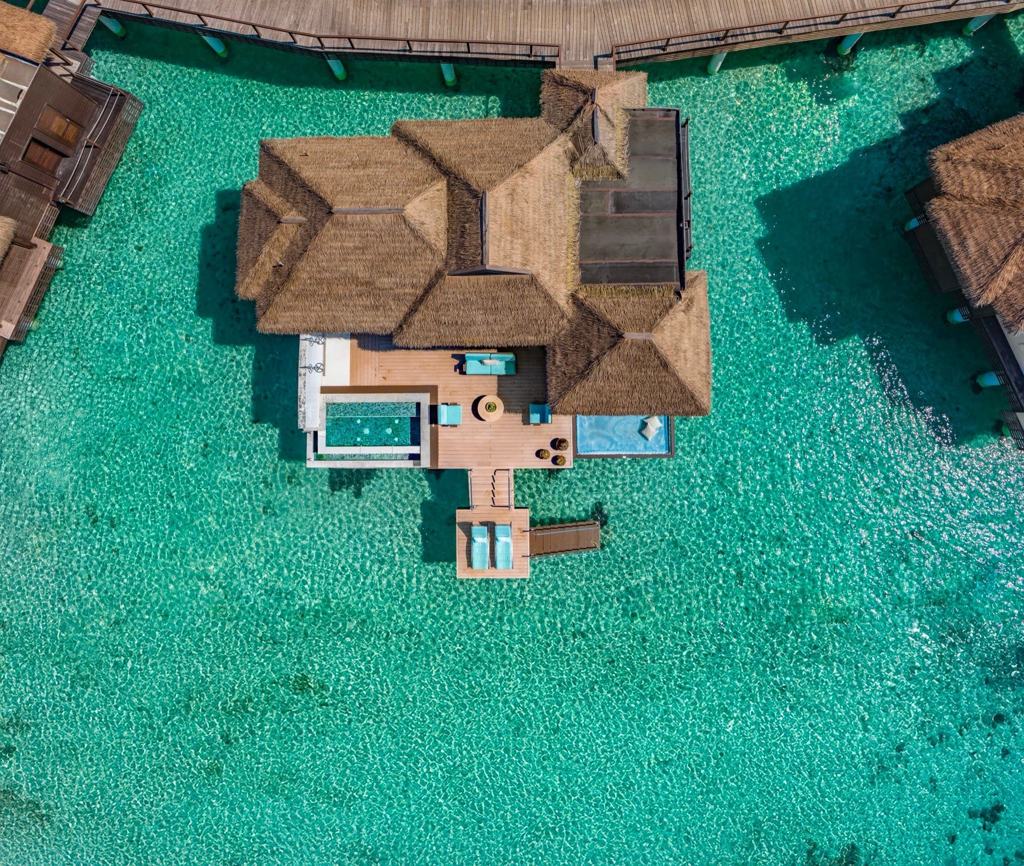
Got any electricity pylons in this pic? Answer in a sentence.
No, the photo shows no electricity pylon.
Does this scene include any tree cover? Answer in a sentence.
No, there is no tree cover in the image.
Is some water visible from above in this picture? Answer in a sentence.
Yes, there's water in this view.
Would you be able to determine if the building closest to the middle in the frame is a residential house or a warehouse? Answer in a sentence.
It turns out the building closest to the middle is a residential house.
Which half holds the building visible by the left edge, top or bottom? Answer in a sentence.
Seen from above, the building visible by the left edge lies in the top half of the view.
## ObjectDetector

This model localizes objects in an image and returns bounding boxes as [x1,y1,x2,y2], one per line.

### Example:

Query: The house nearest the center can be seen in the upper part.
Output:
[229,64,718,420]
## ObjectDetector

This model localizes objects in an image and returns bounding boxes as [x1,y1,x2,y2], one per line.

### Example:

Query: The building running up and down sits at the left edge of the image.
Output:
[0,0,145,334]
